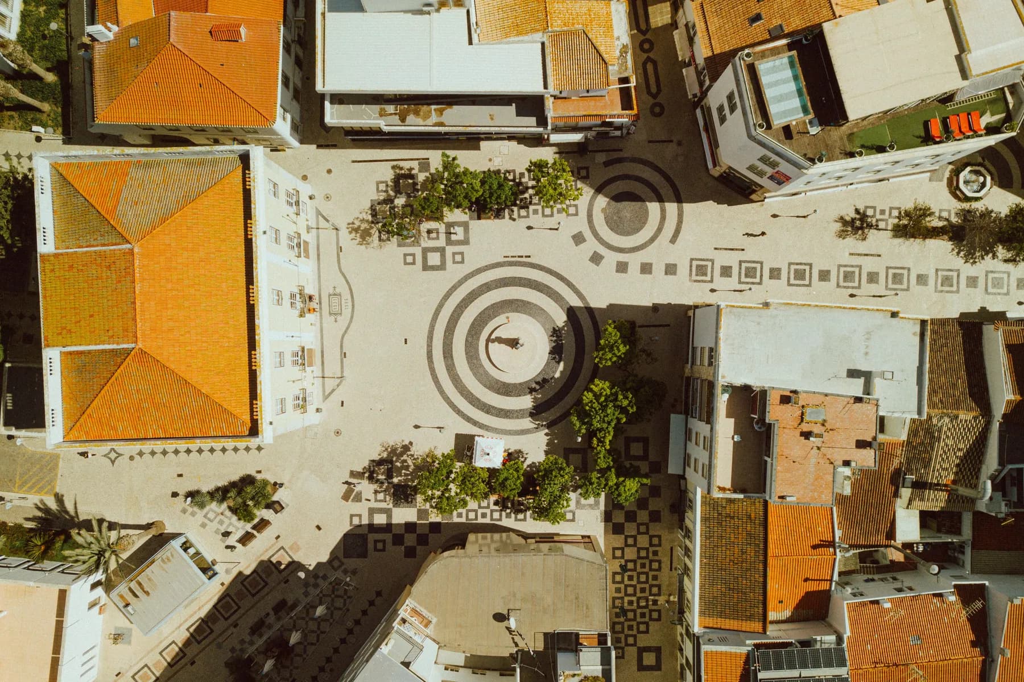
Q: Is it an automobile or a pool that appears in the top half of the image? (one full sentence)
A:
The feature located in the top half of the image is a pool.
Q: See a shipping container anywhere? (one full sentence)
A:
No, I can see no shipping container in this picture.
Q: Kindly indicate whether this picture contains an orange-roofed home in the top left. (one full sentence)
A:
Yes, in the top left there is an orange-roofed home.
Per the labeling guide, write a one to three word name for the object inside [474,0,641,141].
house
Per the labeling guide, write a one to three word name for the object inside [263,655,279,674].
umbrella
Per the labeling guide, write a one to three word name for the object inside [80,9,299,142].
house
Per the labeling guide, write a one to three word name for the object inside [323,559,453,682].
building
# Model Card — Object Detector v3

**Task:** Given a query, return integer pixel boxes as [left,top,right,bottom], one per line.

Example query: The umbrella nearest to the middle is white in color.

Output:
[473,436,505,468]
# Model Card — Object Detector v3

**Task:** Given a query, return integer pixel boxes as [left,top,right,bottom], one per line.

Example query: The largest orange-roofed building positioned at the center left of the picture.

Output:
[38,147,314,448]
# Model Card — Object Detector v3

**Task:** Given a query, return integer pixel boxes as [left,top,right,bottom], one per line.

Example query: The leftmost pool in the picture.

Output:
[753,51,812,131]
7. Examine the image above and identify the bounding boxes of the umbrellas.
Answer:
[263,655,279,674]
[316,601,329,618]
[291,626,306,644]
[473,436,505,468]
